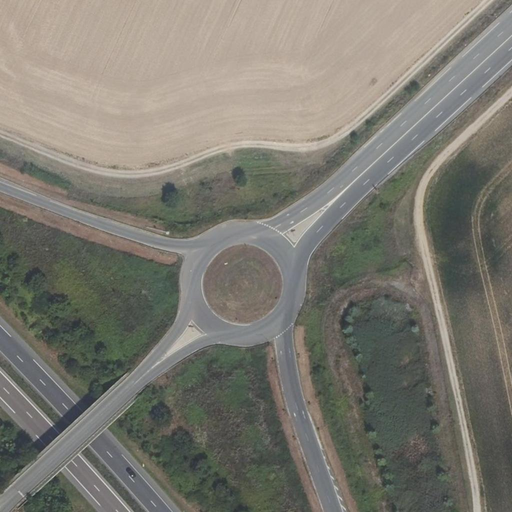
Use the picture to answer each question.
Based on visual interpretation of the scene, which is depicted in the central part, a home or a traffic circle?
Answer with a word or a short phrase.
traffic circle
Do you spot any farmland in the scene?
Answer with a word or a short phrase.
Yes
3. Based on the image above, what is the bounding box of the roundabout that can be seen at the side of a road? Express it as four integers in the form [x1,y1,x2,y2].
[158,192,342,364]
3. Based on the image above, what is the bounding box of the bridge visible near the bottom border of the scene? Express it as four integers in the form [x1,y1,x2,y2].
[0,365,152,512]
